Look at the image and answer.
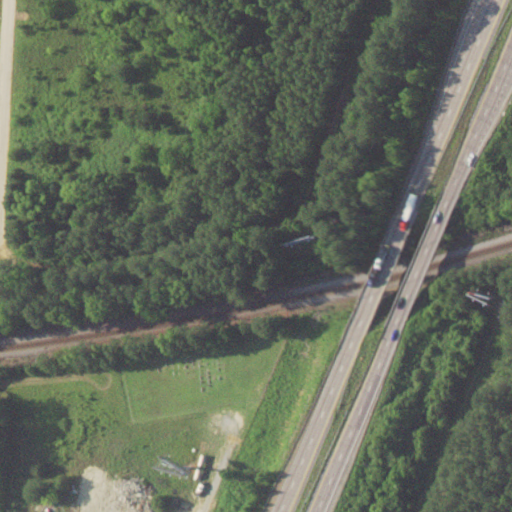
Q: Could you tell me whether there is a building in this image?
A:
No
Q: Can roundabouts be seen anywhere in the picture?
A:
No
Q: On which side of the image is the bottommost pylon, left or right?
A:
left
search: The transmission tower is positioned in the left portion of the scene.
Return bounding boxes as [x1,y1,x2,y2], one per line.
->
[152,456,189,480]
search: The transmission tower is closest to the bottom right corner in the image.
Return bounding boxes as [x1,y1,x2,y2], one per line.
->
[466,291,496,306]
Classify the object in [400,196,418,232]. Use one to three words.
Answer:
vehicle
